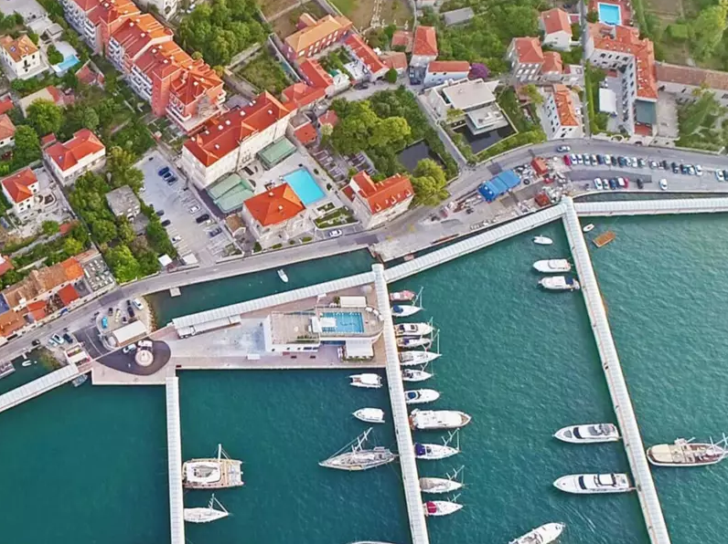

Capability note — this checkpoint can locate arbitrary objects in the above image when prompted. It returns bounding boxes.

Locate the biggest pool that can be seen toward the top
[283,166,327,205]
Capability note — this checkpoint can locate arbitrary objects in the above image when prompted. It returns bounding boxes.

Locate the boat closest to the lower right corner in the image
[646,438,728,464]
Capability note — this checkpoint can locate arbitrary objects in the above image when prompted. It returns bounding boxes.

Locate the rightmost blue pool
[598,2,623,24]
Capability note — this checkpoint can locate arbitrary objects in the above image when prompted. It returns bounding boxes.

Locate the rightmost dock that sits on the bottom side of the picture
[562,198,673,544]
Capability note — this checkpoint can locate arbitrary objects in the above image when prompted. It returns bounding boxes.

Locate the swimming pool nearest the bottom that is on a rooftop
[322,312,365,333]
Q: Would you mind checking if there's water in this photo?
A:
Yes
